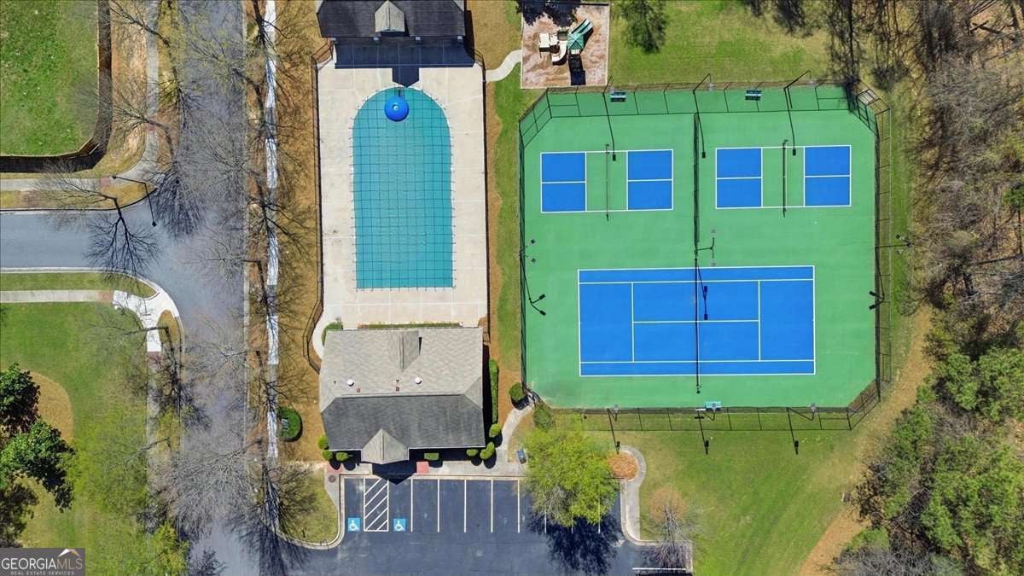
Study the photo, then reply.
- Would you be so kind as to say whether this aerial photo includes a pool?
Yes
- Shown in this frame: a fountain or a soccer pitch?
fountain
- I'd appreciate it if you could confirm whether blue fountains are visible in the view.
Yes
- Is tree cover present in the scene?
Yes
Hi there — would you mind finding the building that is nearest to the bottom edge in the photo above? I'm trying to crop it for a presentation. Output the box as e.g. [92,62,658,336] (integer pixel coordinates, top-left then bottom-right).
[319,327,485,466]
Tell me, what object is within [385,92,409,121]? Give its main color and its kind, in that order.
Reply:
blue fountain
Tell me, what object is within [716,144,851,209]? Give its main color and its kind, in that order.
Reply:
blue sports court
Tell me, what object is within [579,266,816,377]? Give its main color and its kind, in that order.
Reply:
blue tennis court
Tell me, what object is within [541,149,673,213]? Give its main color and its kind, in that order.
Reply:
blue sports court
